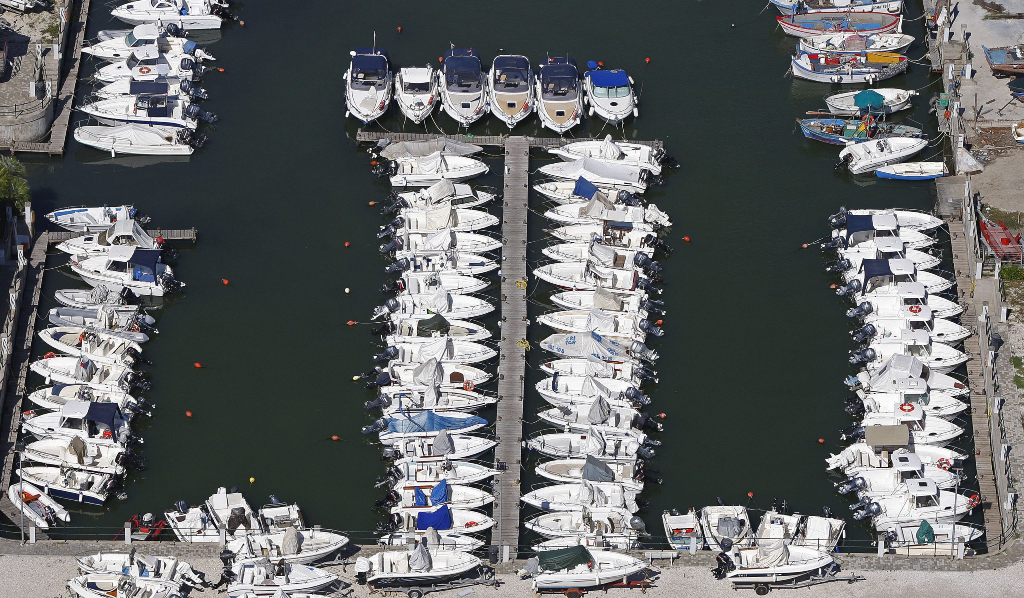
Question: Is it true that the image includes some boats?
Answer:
Yes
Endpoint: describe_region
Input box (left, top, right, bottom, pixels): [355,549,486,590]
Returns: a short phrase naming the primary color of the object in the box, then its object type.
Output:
white boat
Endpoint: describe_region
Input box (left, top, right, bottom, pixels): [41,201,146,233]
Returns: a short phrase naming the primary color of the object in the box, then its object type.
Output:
white boat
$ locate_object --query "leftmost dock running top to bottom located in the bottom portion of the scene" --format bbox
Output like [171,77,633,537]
[0,232,49,491]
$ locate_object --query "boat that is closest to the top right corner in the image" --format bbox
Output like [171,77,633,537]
[981,40,1024,73]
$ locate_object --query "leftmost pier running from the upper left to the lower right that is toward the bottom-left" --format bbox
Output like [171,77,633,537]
[0,491,50,539]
